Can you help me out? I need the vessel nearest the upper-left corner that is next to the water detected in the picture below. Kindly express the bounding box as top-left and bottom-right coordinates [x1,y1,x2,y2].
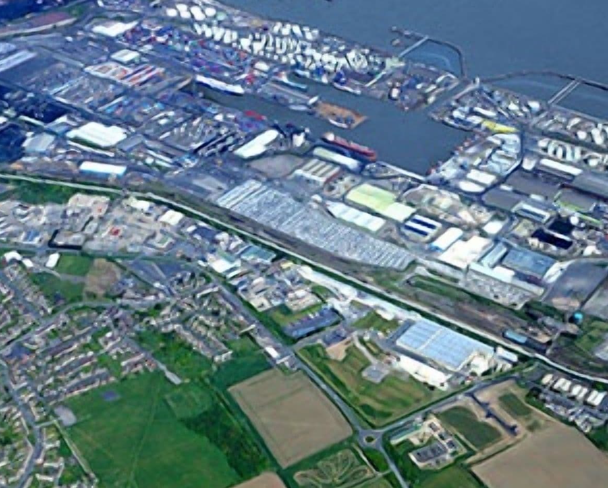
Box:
[192,74,244,94]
